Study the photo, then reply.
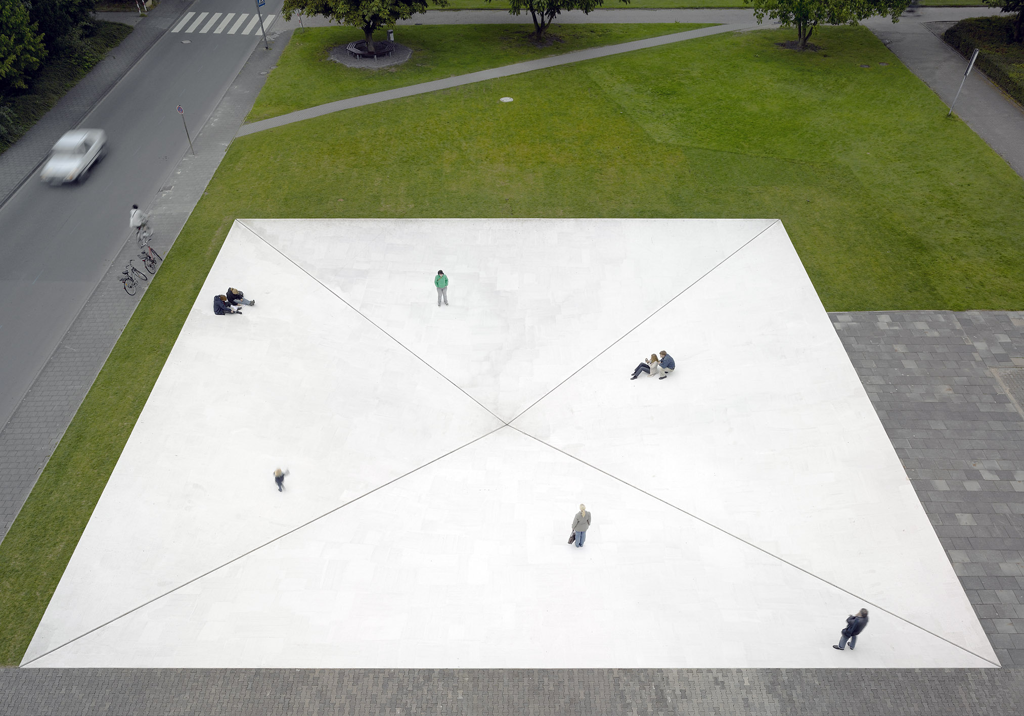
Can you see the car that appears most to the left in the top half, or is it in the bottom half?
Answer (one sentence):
The car that appears most to the left is in the top half of the image.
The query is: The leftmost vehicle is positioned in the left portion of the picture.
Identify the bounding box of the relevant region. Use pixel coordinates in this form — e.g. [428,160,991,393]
[38,132,106,184]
